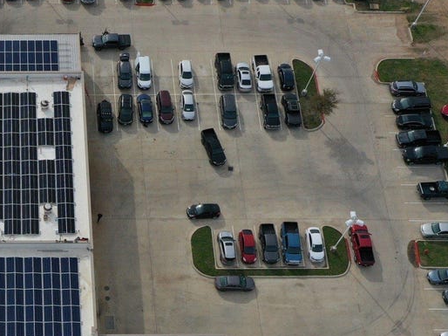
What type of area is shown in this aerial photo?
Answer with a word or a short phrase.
parking lot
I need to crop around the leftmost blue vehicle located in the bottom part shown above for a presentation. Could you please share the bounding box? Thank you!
[279,221,304,266]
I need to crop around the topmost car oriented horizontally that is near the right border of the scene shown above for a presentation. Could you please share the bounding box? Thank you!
[389,80,427,98]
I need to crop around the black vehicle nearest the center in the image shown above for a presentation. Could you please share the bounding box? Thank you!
[198,126,226,169]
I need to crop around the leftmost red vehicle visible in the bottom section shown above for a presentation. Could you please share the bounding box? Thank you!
[238,230,258,262]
